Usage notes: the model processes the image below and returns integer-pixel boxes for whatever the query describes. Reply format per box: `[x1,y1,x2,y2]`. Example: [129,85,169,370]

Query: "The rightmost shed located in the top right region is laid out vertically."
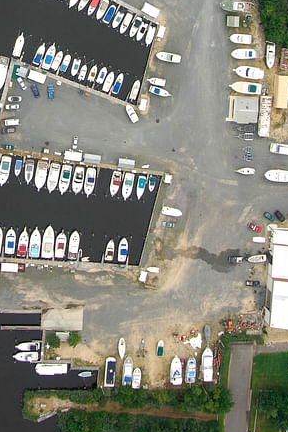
[273,75,288,108]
